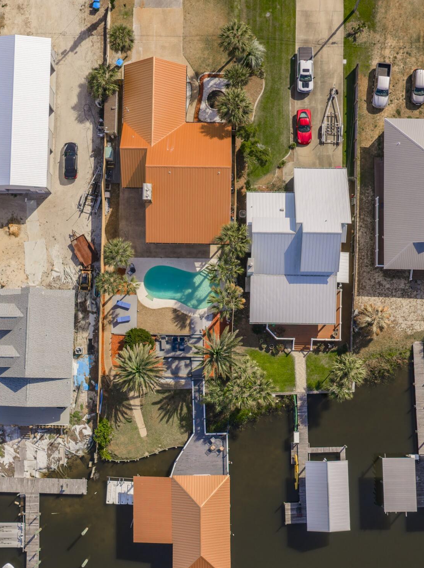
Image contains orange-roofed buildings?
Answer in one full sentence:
Yes, the image includes an orange-roofed building.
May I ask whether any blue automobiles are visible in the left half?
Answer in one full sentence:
No, there's no blue automobile to be seen in the left half.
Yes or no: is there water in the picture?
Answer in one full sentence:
Yes, water can be seen from above here.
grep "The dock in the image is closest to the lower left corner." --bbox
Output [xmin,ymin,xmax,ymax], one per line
[0,523,24,548]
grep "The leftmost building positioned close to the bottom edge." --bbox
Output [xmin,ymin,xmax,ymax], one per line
[133,474,231,568]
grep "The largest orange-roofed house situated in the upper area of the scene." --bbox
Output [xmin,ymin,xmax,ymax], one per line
[120,56,232,245]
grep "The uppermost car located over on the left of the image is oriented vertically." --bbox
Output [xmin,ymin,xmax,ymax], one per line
[62,143,80,180]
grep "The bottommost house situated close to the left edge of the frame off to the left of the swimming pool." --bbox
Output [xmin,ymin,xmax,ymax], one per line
[0,287,76,437]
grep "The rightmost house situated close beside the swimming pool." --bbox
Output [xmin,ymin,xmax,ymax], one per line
[243,167,351,352]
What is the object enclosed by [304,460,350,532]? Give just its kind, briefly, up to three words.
building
